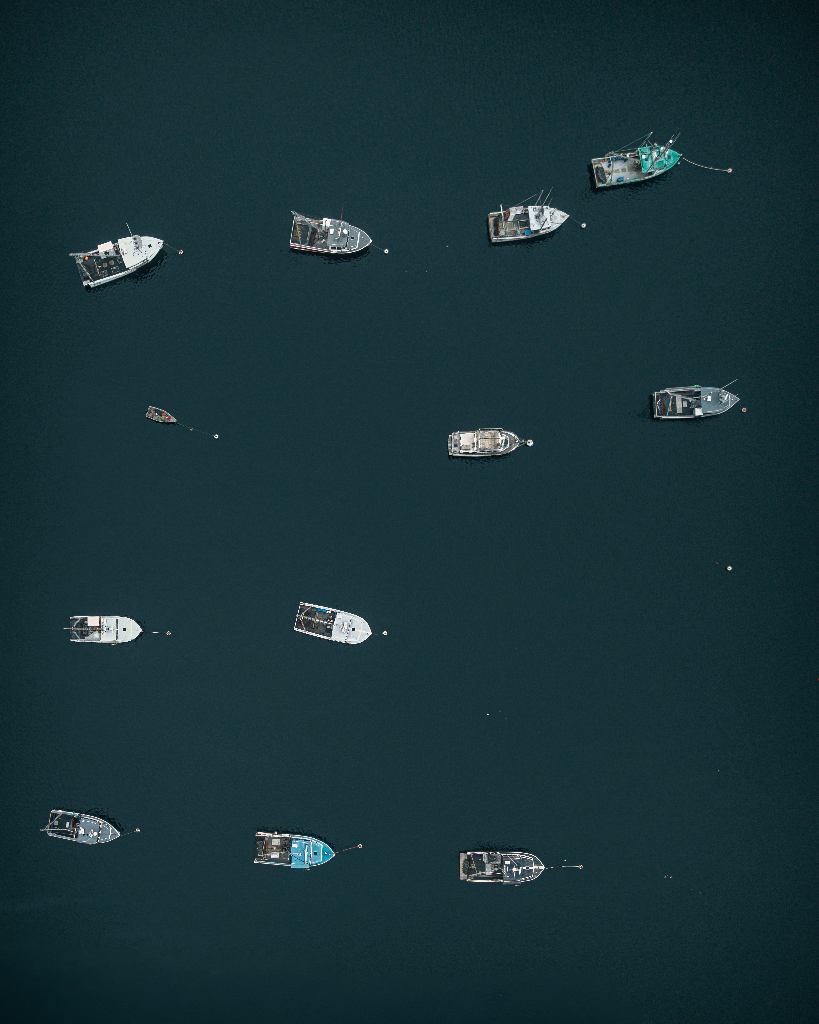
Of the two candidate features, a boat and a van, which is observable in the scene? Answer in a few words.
boat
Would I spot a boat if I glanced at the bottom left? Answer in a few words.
Yes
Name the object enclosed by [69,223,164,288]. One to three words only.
boat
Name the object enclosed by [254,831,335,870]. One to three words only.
boat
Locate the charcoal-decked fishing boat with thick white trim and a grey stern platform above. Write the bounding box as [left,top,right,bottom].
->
[460,849,545,886]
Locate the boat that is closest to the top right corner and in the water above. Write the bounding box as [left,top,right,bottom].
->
[590,129,683,189]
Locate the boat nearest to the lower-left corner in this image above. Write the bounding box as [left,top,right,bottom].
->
[40,809,120,845]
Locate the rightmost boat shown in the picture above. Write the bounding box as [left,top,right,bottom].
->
[650,379,740,418]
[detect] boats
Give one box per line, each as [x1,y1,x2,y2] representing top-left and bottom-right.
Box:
[290,206,372,254]
[460,849,545,886]
[488,187,569,241]
[294,602,372,643]
[144,406,176,423]
[590,129,683,189]
[449,428,524,456]
[69,223,164,288]
[40,809,120,845]
[254,831,335,870]
[650,379,740,418]
[64,615,142,645]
